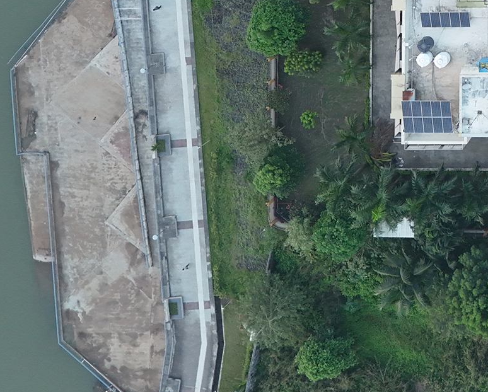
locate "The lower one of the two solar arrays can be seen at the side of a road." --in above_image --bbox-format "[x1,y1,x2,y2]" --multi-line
[402,102,451,137]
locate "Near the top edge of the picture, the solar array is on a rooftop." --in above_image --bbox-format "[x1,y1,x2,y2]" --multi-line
[421,13,469,31]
